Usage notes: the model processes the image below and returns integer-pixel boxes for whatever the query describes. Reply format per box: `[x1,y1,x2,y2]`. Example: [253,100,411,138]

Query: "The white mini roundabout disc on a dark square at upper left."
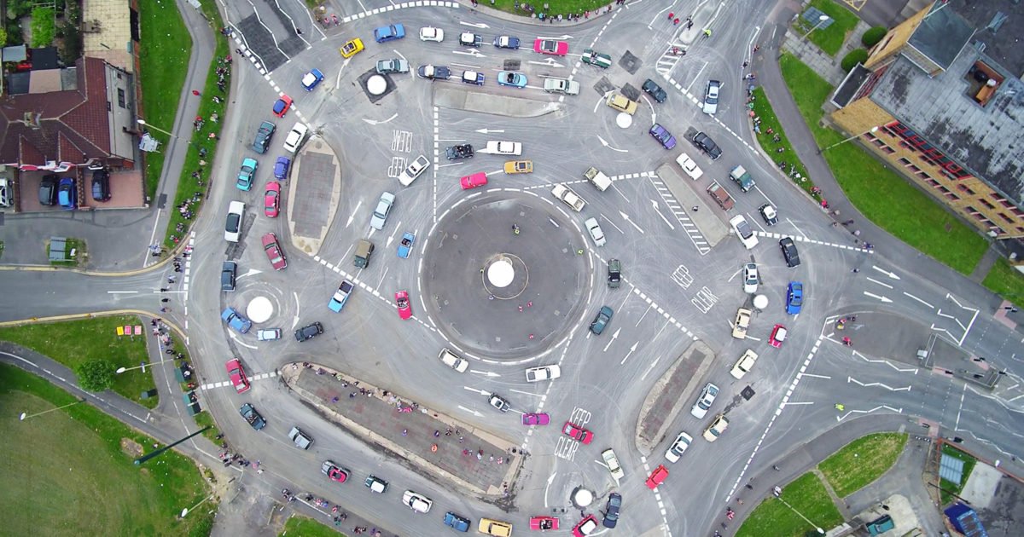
[357,68,397,103]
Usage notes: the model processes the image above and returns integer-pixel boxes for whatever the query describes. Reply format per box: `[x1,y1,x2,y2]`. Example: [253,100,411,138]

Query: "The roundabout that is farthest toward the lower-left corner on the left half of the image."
[246,296,273,324]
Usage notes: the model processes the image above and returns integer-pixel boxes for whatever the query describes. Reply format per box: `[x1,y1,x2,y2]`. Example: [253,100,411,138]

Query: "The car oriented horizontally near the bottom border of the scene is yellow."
[477,517,514,537]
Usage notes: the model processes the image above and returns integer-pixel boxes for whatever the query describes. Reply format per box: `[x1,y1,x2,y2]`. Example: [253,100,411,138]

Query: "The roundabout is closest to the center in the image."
[423,193,589,359]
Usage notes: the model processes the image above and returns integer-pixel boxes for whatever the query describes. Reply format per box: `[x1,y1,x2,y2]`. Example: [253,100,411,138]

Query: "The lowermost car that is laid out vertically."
[602,491,622,529]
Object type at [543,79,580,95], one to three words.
car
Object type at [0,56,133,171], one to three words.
house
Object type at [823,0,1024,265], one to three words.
building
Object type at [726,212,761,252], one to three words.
car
